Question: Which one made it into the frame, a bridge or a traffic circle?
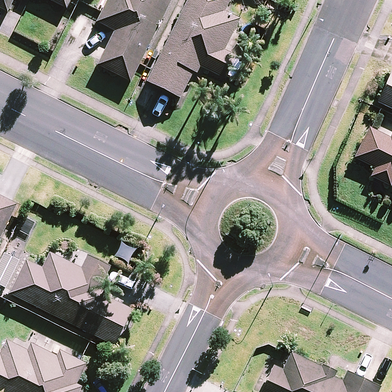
traffic circle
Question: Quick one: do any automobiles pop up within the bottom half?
Yes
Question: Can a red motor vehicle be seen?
No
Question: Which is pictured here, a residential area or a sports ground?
residential area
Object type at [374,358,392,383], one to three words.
car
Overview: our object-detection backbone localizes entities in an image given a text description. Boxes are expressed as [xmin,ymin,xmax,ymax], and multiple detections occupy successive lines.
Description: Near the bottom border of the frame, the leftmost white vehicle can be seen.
[357,352,372,375]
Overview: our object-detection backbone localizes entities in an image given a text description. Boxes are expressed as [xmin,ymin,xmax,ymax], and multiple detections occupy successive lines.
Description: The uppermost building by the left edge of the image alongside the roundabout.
[5,252,133,343]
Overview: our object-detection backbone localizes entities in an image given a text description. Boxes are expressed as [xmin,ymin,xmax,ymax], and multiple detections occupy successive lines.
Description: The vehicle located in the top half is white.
[84,30,106,47]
